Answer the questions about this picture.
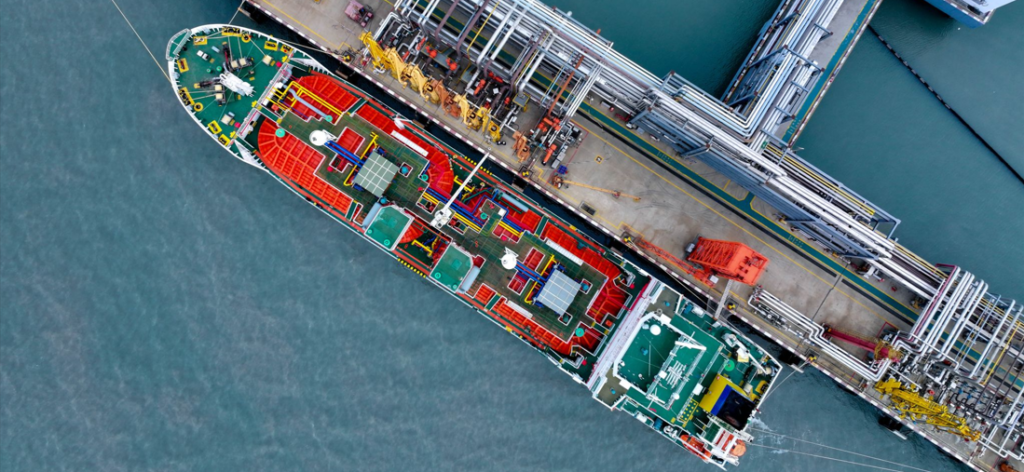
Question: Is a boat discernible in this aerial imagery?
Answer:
Yes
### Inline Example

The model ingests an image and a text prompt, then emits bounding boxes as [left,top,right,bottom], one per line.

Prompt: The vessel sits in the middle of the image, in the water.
[163,24,782,472]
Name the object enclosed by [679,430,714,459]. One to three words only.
boat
